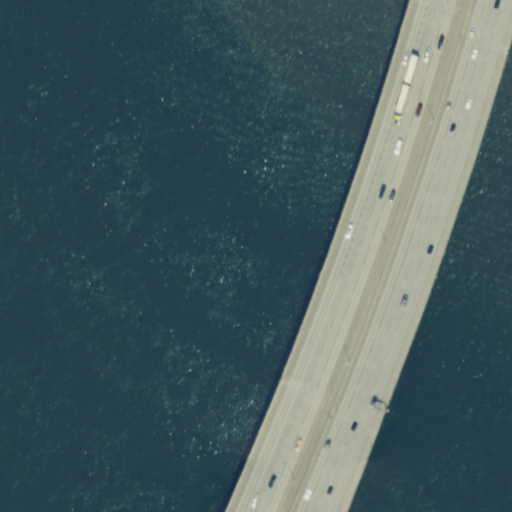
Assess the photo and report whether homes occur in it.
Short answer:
No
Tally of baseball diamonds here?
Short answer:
none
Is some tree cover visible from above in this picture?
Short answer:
No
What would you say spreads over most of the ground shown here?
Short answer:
water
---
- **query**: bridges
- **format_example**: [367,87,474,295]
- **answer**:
[226,0,512,512]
